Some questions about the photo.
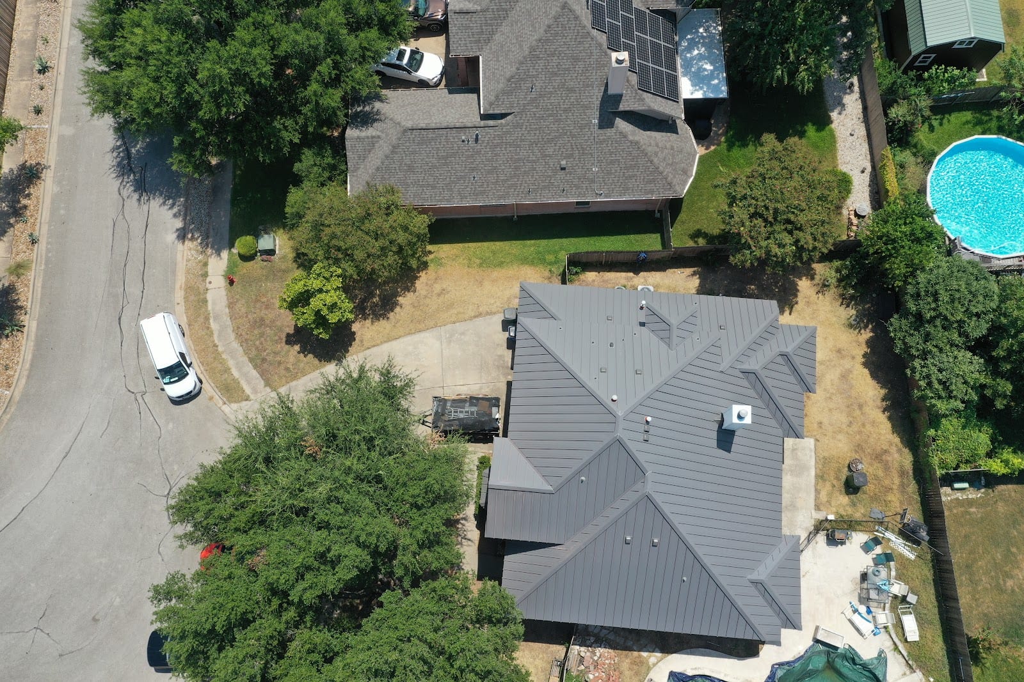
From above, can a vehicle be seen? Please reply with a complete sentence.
Yes, the frame does contain a vehicle.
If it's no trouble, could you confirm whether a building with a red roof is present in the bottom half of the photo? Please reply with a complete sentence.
No, I see no building with a red roof in the bottom half of the photo.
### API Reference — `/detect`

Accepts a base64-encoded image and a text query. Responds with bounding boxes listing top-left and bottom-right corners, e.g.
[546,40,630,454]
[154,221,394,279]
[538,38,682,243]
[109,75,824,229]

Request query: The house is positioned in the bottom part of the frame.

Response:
[485,281,819,645]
